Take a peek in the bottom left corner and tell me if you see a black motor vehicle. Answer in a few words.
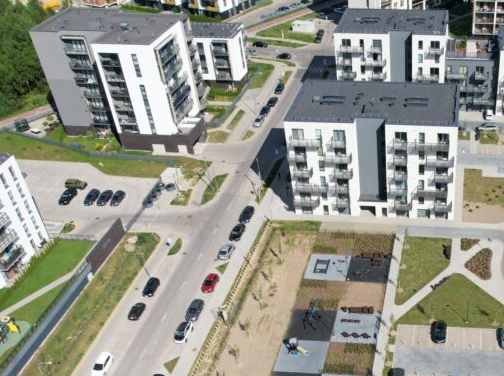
Yes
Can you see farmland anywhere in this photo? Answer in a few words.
No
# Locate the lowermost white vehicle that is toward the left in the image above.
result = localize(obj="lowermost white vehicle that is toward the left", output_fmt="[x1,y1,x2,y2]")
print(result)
[90,352,115,376]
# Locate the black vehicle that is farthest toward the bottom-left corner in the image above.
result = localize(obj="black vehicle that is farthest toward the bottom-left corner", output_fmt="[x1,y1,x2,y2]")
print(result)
[127,301,147,322]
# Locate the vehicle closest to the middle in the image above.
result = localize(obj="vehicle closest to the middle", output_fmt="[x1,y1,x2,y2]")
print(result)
[239,208,254,223]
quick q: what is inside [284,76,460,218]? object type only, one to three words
building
